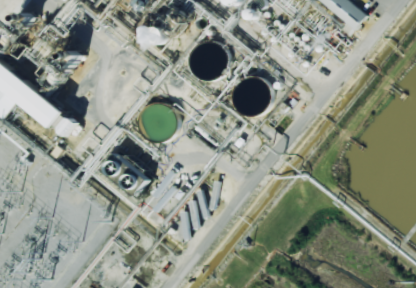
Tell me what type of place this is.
industrial area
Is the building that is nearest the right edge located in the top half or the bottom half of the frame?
top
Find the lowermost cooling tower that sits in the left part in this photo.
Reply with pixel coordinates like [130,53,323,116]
[96,154,157,206]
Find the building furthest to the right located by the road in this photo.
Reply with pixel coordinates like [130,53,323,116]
[316,0,369,33]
